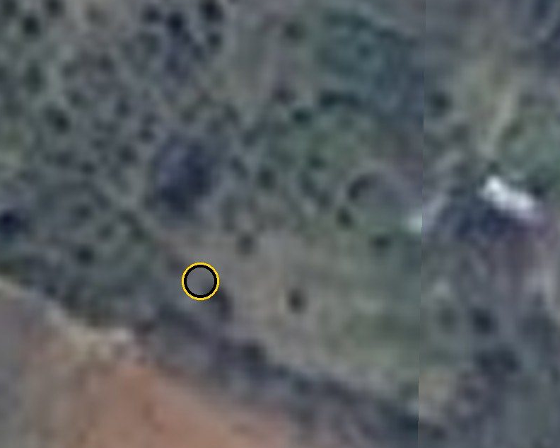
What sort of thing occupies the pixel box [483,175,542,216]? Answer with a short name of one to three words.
shed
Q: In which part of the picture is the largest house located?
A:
right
